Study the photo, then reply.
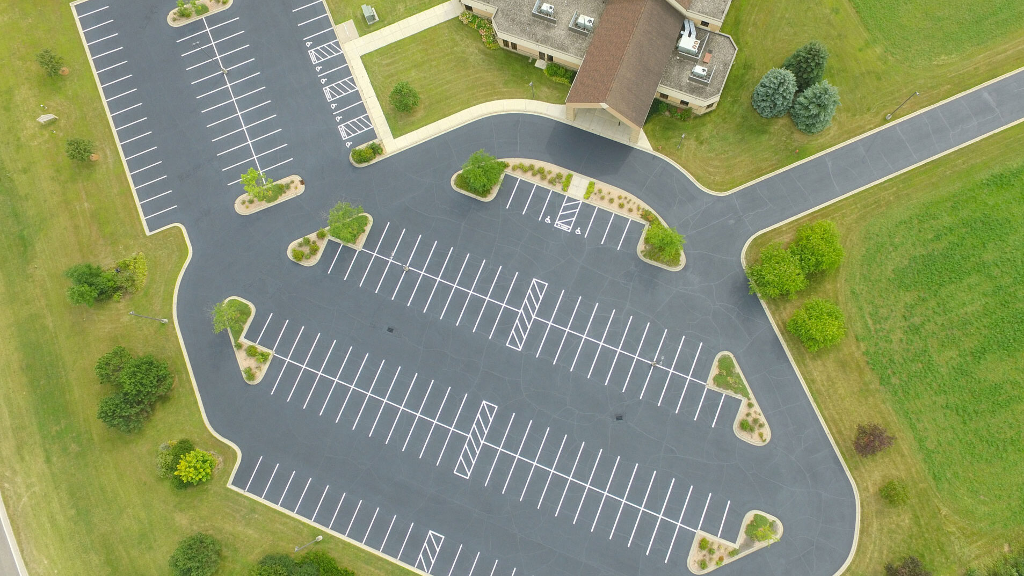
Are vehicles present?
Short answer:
No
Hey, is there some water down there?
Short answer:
No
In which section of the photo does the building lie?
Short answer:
top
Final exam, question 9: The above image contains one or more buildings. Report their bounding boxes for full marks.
[433,0,738,143]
